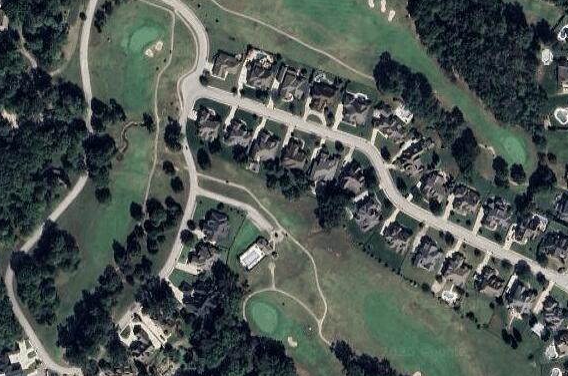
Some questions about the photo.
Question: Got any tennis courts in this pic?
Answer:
No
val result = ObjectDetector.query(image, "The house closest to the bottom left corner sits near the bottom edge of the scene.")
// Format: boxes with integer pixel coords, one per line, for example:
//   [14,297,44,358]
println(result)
[0,352,23,375]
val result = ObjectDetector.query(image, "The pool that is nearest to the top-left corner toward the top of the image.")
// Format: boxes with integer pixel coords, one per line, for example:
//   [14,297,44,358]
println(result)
[248,50,275,64]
